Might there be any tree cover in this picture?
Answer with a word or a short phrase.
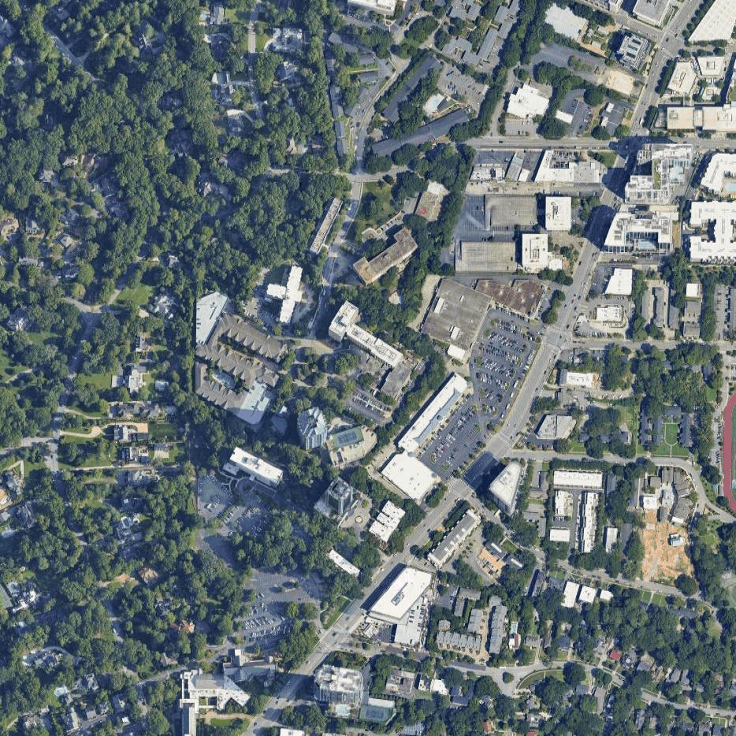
Yes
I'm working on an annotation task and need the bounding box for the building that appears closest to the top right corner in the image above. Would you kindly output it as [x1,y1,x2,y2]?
[690,0,736,43]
